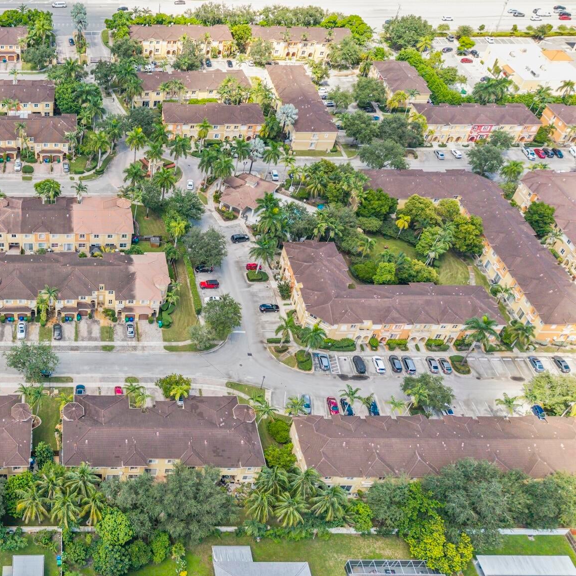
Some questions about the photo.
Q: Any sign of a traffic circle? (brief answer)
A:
Yes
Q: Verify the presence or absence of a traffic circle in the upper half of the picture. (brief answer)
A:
Yes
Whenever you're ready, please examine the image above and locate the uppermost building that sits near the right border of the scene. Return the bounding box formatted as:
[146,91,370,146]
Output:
[483,44,576,97]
